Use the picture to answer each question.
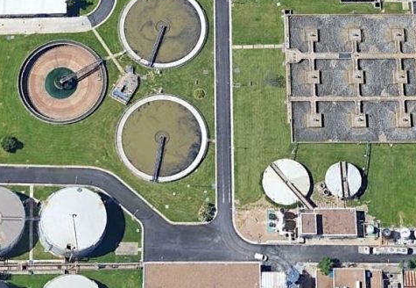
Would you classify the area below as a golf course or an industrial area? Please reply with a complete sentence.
The area seen from above is an industrial area.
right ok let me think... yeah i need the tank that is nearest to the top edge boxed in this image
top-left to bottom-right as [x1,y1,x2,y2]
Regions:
[116,0,209,70]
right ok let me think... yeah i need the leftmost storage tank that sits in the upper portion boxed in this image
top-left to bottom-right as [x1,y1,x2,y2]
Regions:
[17,40,107,124]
